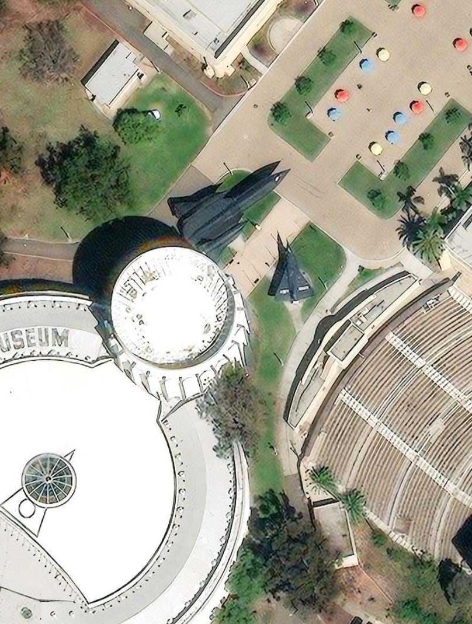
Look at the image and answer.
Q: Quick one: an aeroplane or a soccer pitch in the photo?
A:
aeroplane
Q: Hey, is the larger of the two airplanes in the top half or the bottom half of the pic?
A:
top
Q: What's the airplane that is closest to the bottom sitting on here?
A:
grass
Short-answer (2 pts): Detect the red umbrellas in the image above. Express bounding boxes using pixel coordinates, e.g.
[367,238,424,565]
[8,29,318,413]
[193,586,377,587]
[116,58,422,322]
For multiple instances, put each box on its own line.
[411,102,423,114]
[413,4,425,16]
[336,89,348,102]
[454,38,467,50]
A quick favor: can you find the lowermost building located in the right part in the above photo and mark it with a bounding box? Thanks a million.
[286,275,422,444]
